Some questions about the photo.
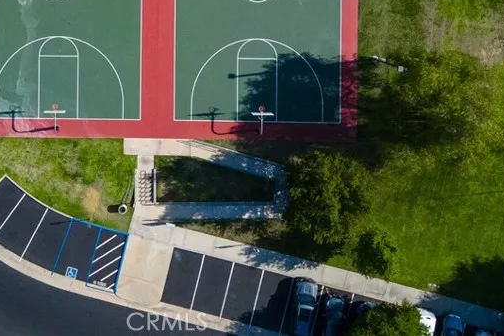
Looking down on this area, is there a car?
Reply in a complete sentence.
Yes, a car can be made out from above.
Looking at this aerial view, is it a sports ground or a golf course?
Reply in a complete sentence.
This looks like a sports ground.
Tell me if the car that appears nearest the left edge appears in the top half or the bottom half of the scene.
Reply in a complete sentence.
The car that appears nearest the left edge sits in the bottom half of the picture.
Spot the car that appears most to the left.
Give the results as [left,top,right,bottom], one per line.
[288,279,319,335]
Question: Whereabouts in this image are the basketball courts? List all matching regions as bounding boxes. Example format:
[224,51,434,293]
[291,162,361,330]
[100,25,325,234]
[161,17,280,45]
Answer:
[0,0,159,139]
[158,0,358,142]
